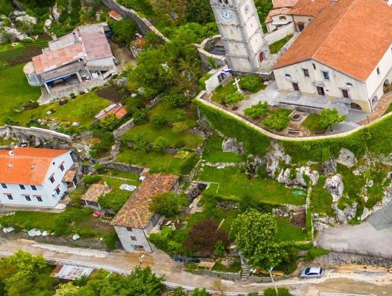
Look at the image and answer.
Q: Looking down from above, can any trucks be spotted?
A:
No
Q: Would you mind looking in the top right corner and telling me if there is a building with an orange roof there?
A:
Yes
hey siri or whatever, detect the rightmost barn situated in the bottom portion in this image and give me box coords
[110,165,186,262]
